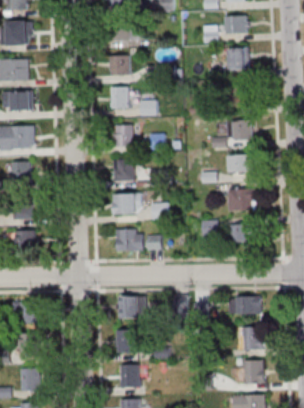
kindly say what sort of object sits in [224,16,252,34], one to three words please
house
